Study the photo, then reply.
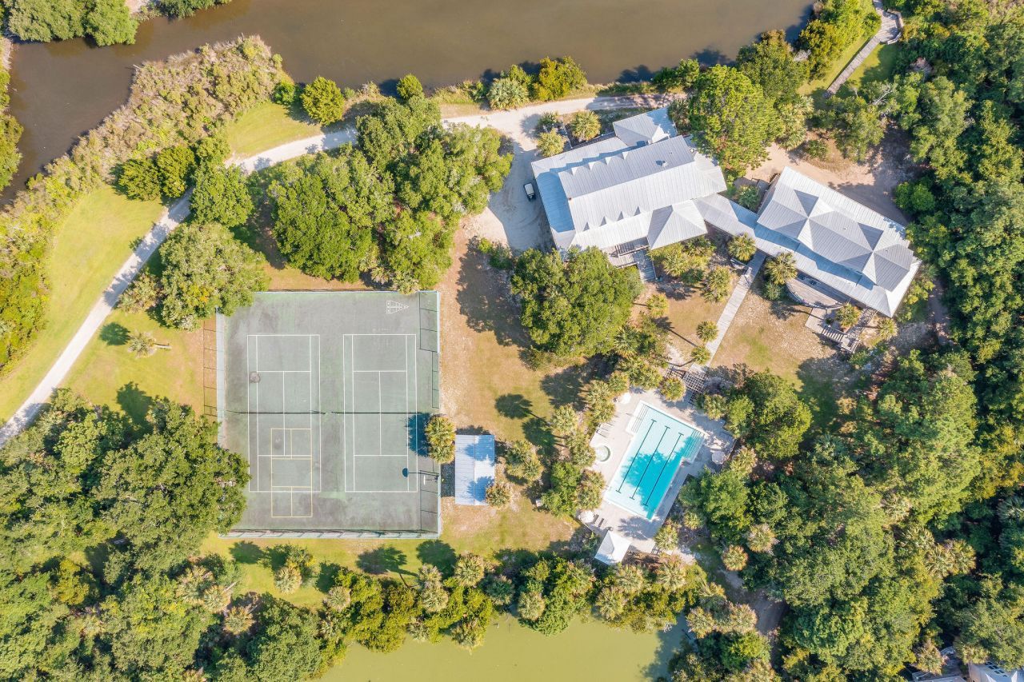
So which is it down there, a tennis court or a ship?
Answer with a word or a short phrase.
tennis court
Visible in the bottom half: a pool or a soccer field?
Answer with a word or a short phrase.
pool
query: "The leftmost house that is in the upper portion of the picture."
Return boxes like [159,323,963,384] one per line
[531,107,726,259]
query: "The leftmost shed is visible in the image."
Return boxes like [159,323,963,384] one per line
[455,435,495,506]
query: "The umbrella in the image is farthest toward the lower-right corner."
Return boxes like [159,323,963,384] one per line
[709,449,725,465]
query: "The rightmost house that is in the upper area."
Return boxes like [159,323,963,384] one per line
[738,166,927,316]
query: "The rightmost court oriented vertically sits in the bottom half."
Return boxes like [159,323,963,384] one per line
[343,334,418,492]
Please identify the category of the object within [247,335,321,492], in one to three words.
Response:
tennis court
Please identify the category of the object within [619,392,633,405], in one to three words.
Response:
umbrella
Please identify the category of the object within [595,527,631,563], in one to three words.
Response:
building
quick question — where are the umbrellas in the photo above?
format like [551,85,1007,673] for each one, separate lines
[709,449,725,465]
[579,508,597,525]
[619,392,633,405]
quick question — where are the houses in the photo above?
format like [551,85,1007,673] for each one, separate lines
[941,648,1024,682]
[738,166,927,316]
[531,107,726,259]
